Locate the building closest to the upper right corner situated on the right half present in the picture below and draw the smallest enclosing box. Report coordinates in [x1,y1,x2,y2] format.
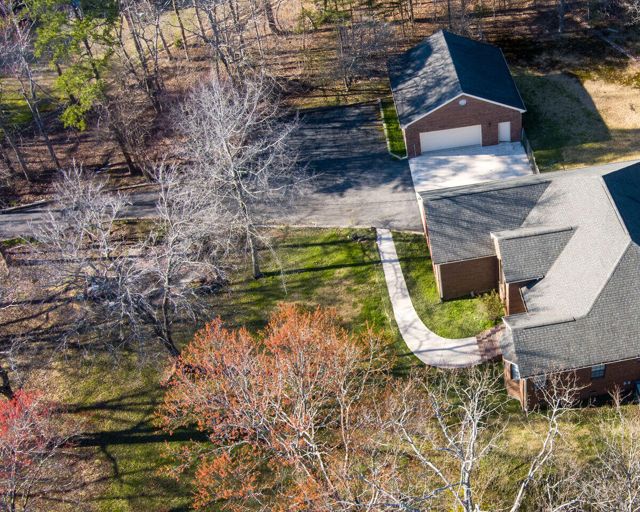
[384,29,528,158]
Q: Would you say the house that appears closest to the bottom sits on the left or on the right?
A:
right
